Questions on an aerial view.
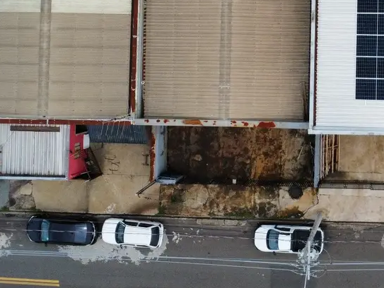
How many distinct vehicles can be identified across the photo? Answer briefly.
3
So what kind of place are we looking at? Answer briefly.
industrial area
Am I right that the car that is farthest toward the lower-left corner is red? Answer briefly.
No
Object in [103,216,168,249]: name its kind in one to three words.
car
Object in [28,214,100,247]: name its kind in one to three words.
car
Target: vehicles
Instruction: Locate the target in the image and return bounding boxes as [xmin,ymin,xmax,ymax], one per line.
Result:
[103,216,168,249]
[255,223,324,255]
[28,214,100,247]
